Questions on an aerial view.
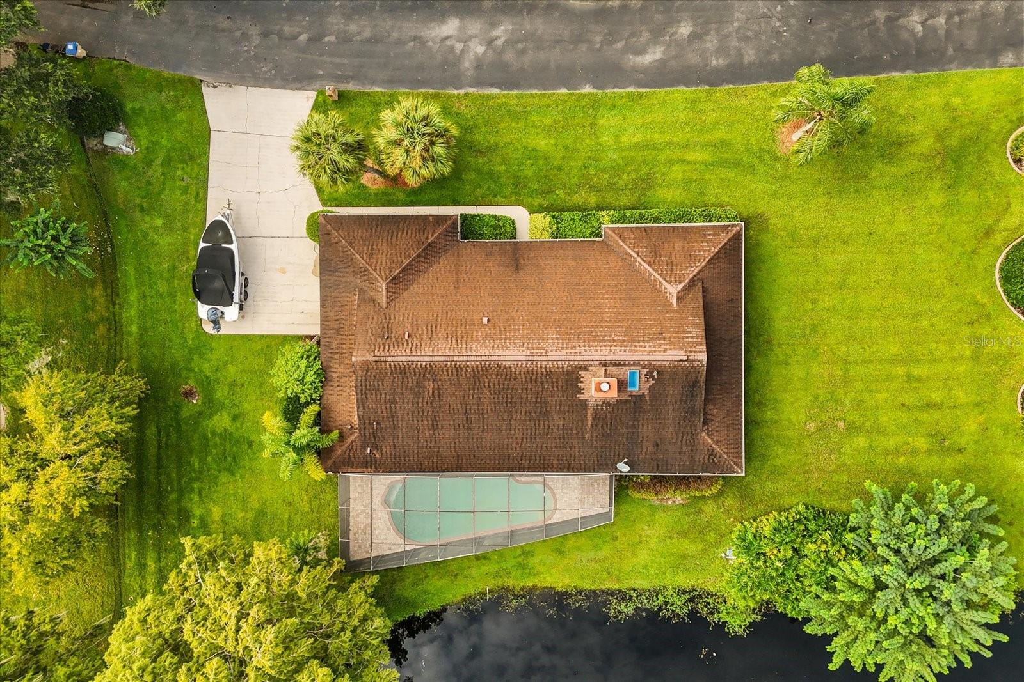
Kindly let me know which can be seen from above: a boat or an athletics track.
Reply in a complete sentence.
Of the two, only a boat appears.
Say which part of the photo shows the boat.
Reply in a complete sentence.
The boat sits in the left section of the image.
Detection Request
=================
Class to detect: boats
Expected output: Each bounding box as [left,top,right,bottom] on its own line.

[191,214,246,333]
